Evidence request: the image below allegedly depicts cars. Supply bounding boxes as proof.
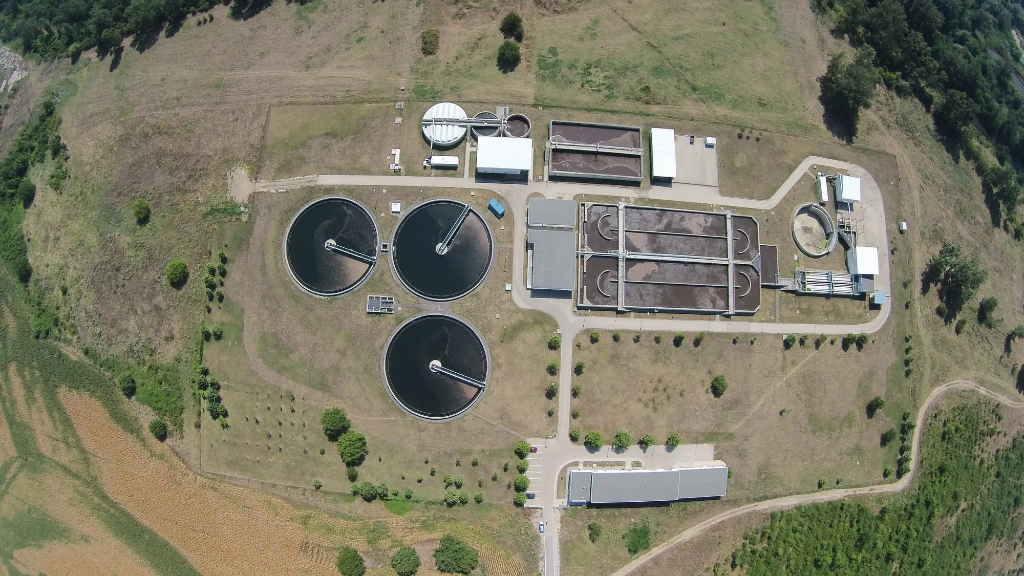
[539,521,545,534]
[525,493,536,500]
[528,447,540,453]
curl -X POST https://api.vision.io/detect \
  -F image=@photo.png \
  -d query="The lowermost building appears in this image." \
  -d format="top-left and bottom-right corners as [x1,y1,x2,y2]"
[568,464,727,507]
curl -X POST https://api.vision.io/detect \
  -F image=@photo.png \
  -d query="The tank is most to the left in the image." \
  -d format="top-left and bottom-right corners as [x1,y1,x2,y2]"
[284,194,382,299]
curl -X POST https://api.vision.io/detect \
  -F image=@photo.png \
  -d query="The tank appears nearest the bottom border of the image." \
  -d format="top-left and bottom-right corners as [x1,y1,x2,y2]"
[383,311,491,422]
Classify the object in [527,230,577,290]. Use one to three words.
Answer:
building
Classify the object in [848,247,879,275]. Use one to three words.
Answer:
house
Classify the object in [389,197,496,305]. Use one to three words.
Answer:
storage tank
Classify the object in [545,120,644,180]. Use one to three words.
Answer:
storage tank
